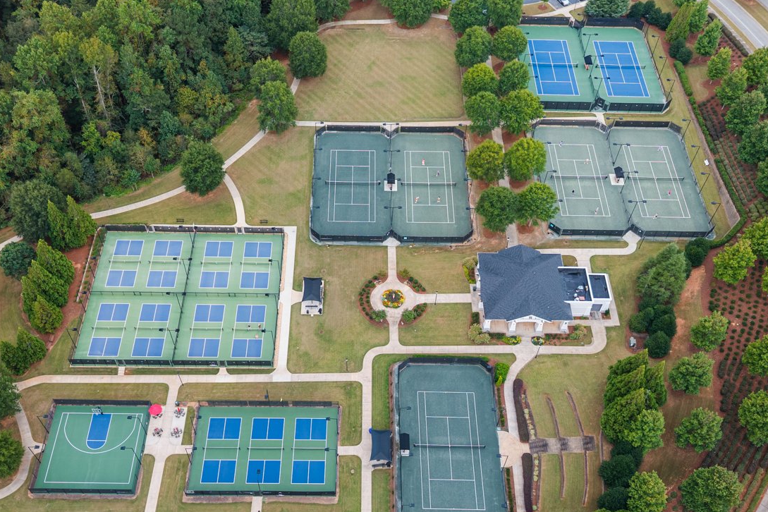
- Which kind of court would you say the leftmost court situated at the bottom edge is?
basketball court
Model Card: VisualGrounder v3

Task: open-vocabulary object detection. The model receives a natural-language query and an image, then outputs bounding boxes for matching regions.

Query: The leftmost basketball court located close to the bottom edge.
[31,405,149,493]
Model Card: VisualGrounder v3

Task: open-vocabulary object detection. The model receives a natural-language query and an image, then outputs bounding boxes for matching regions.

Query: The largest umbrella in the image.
[147,403,161,415]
